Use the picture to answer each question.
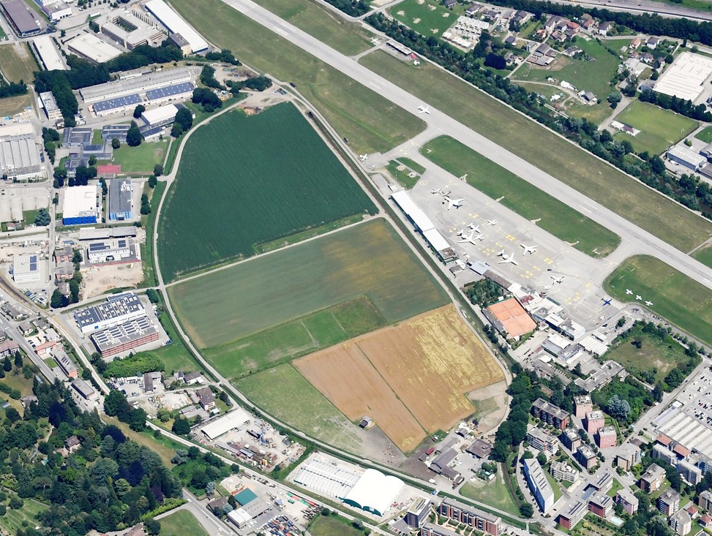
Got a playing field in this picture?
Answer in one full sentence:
Yes, the frame does contain a playing field.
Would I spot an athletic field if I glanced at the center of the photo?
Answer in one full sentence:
No, there's no athletic field to be seen at the center of the photo.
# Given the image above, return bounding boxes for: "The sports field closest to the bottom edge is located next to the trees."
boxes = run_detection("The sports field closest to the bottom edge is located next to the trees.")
[611,99,698,155]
